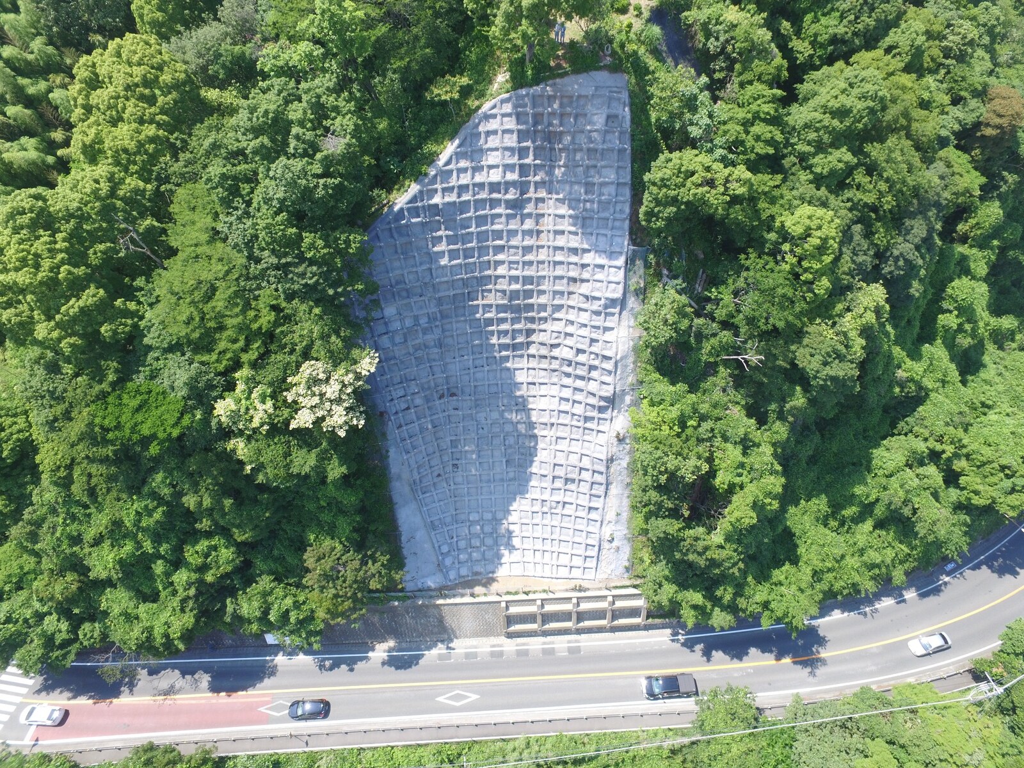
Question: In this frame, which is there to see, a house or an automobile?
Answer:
automobile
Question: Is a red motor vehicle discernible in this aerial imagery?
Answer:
No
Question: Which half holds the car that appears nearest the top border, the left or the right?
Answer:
right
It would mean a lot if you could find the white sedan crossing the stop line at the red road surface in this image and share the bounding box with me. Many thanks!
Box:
[18,703,70,727]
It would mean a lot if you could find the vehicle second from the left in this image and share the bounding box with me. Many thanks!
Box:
[288,697,331,721]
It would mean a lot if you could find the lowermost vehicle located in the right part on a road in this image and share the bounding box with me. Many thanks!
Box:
[641,674,697,698]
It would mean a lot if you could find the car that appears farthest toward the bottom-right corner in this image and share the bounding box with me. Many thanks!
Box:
[906,631,954,657]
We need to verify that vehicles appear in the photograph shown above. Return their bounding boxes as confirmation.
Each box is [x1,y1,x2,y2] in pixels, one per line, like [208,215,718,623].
[641,674,697,698]
[288,697,331,721]
[18,703,70,727]
[906,631,954,657]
